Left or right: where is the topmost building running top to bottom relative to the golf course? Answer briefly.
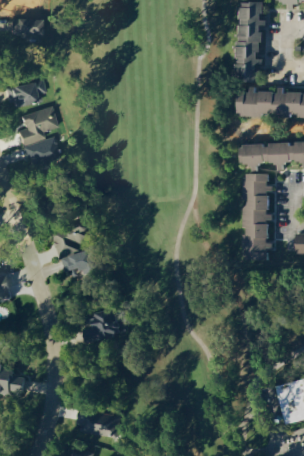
on the right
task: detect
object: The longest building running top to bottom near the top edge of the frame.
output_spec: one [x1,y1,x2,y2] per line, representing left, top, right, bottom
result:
[233,1,266,84]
